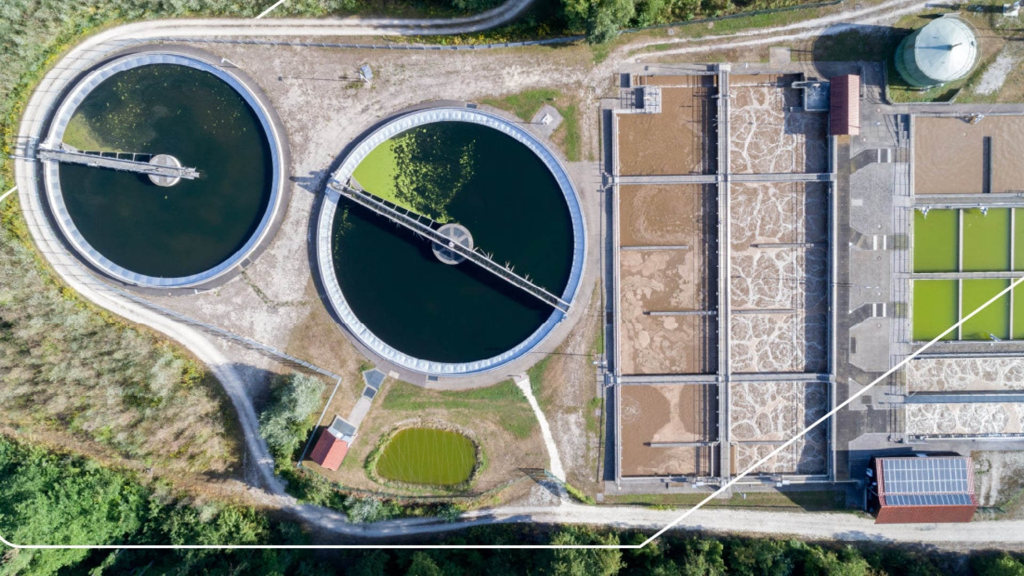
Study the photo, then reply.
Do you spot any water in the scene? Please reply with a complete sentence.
Yes, some water is visible.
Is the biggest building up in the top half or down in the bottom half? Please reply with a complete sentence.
The bottom half of the photo is where the biggest building is.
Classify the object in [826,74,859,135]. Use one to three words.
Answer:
shed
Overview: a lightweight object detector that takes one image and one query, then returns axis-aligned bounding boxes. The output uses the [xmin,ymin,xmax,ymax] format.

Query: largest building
[865,452,982,524]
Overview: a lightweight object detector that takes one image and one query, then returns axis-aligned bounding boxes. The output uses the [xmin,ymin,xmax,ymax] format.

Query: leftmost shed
[311,430,349,470]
